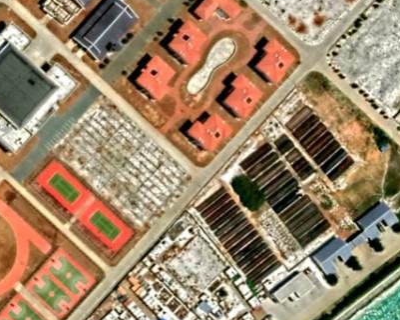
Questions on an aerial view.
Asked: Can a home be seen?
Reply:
Yes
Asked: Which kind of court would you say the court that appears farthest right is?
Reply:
tennis court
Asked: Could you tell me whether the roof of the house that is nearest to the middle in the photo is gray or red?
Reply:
red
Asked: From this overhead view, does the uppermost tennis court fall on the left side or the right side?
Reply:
left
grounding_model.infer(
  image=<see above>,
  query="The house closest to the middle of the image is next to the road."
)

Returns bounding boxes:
[187,115,236,151]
